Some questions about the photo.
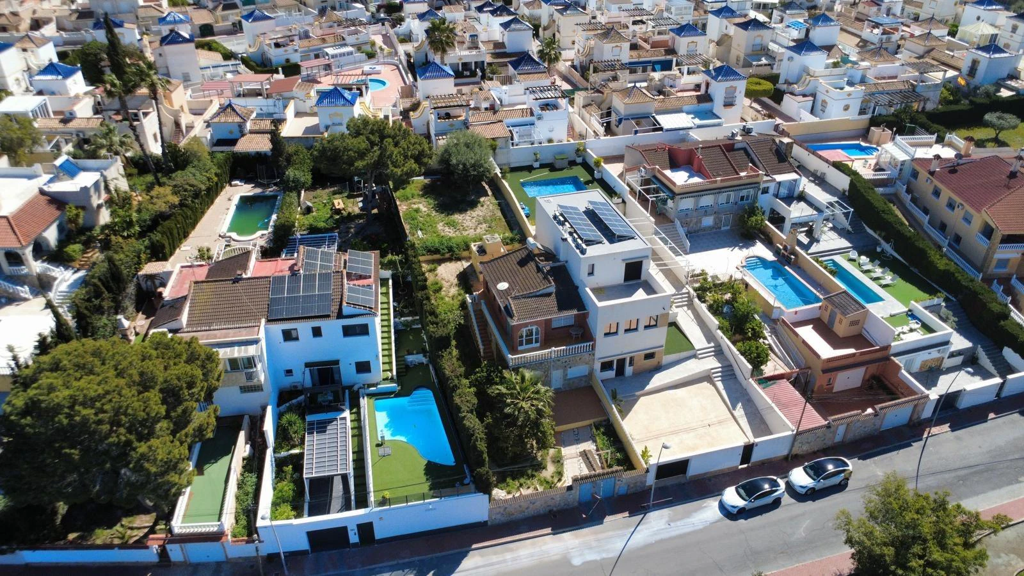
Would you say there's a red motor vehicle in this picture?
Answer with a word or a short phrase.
No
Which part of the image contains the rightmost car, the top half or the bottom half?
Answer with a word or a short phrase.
bottom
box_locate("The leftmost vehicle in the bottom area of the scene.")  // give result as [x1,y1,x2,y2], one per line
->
[720,475,788,516]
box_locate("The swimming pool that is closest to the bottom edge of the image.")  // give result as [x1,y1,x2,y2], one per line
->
[375,387,455,465]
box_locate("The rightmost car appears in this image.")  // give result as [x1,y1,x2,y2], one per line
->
[789,455,856,494]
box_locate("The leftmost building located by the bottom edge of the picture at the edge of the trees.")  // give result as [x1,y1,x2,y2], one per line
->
[118,464,263,563]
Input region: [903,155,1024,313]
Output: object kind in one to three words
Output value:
house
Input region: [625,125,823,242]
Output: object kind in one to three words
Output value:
house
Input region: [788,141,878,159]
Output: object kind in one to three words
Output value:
swimming pool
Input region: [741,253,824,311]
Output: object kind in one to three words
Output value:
swimming pool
